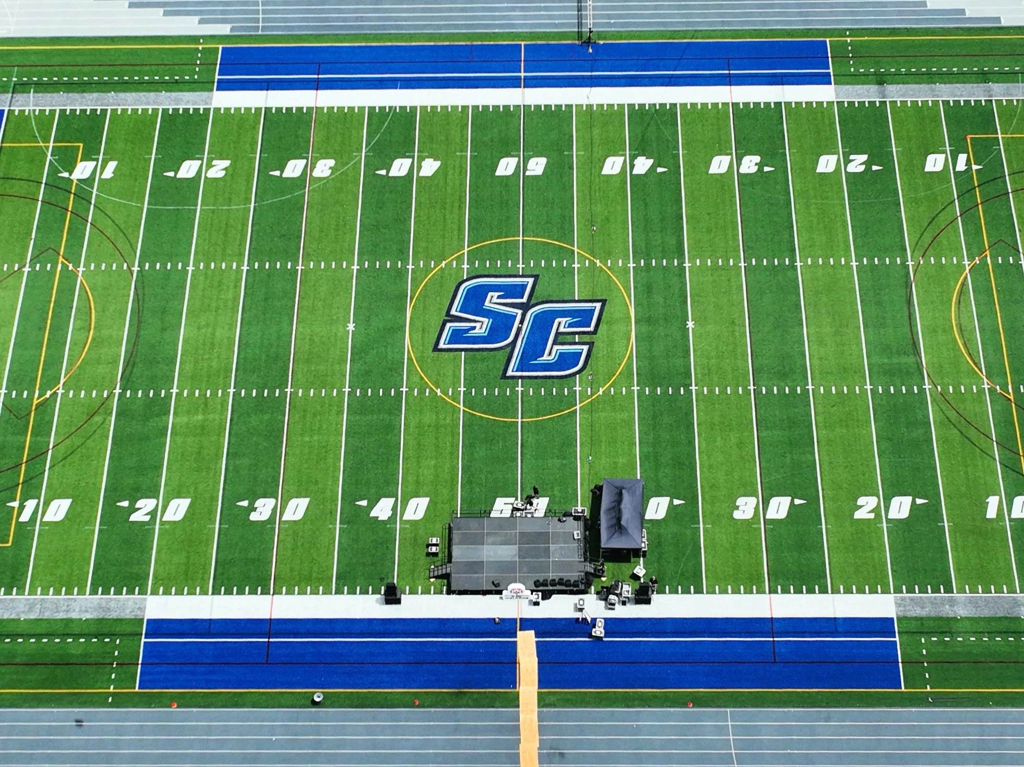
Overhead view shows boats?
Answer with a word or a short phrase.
No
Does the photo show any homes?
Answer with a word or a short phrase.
No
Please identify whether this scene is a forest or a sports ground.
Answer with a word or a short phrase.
sports ground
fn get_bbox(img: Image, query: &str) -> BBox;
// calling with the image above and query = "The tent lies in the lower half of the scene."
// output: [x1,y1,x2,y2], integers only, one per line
[601,478,644,563]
